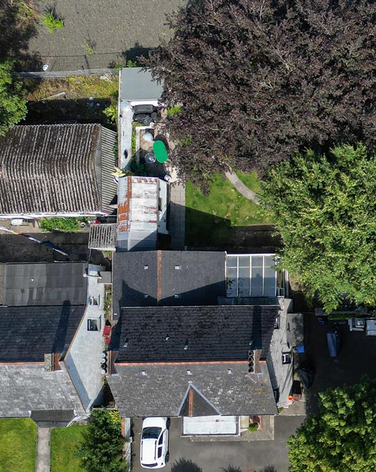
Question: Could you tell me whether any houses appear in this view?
Yes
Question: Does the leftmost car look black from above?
No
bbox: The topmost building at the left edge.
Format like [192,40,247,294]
[0,123,117,219]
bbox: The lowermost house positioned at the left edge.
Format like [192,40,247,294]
[0,290,108,432]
